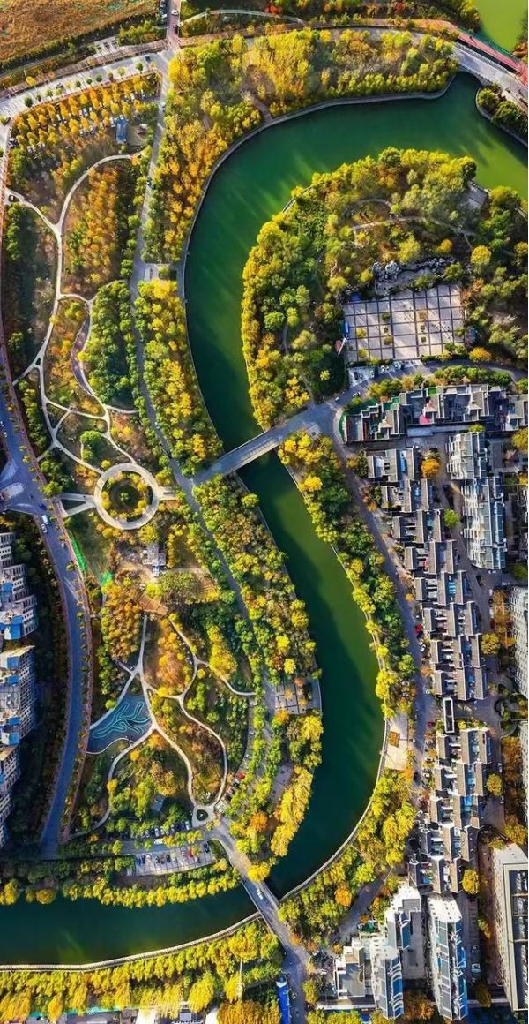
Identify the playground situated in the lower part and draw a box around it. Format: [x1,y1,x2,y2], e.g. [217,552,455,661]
[86,694,153,752]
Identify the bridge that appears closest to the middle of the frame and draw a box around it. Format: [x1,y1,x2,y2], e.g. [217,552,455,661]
[188,416,311,491]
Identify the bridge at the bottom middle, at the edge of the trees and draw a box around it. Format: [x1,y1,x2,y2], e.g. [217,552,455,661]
[232,858,287,938]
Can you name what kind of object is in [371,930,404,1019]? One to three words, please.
building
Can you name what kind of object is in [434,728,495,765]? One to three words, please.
house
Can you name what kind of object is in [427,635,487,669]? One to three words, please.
house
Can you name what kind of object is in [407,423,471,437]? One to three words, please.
shed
